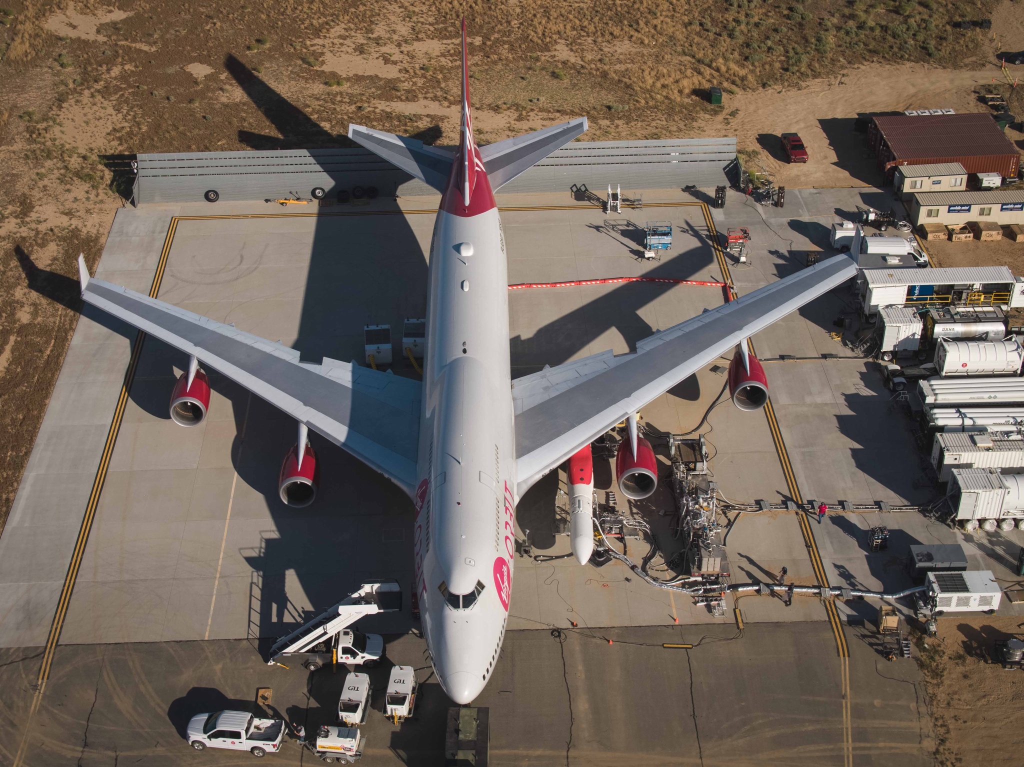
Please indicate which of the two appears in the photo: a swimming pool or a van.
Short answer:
van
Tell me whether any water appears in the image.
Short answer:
No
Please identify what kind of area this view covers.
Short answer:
airport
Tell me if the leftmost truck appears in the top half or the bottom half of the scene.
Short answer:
bottom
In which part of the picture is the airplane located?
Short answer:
center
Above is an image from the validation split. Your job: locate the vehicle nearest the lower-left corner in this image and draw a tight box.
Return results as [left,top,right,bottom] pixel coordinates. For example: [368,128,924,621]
[184,708,288,758]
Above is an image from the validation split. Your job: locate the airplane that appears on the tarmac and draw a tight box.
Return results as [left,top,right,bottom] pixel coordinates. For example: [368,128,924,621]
[76,13,860,707]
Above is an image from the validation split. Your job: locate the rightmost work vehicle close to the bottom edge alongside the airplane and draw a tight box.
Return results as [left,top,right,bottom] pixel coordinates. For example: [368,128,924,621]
[446,707,491,767]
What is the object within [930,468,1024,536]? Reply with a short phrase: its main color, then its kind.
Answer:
white trailer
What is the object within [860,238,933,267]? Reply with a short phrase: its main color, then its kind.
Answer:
white van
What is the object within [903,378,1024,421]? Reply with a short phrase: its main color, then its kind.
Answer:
white trailer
